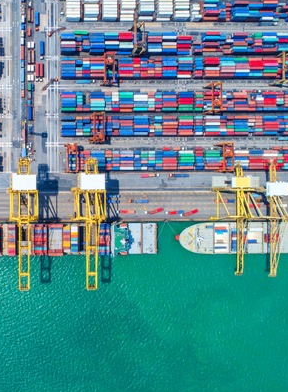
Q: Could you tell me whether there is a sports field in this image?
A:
No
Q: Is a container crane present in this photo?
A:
Yes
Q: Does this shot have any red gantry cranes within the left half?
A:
No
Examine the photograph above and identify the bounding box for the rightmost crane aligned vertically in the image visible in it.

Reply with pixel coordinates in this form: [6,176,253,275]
[239,162,288,279]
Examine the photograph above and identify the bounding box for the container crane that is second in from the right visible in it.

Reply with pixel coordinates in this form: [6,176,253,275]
[208,166,256,276]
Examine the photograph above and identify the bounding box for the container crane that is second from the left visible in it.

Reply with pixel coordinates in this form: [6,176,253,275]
[73,157,105,291]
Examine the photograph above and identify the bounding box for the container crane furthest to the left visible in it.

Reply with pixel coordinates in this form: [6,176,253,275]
[11,157,38,291]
